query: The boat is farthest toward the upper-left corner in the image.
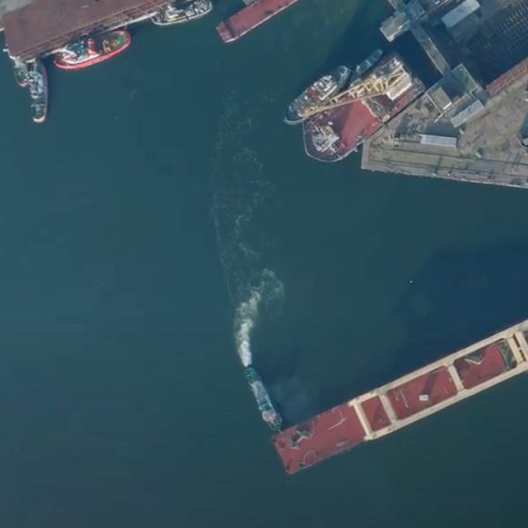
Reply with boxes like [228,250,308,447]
[6,54,30,88]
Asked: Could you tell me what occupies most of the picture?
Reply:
water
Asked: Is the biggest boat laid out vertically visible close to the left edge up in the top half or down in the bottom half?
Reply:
top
